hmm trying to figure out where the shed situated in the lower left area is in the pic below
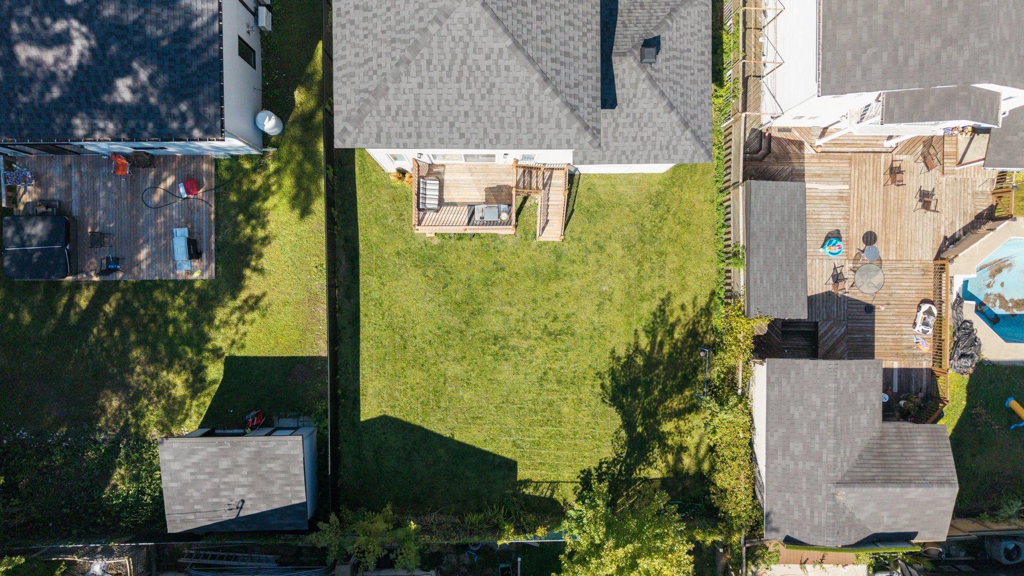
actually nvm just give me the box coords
[158,420,317,533]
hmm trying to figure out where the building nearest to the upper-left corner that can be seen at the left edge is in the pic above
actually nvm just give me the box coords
[0,0,264,156]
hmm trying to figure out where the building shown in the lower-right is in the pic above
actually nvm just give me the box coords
[751,358,959,548]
